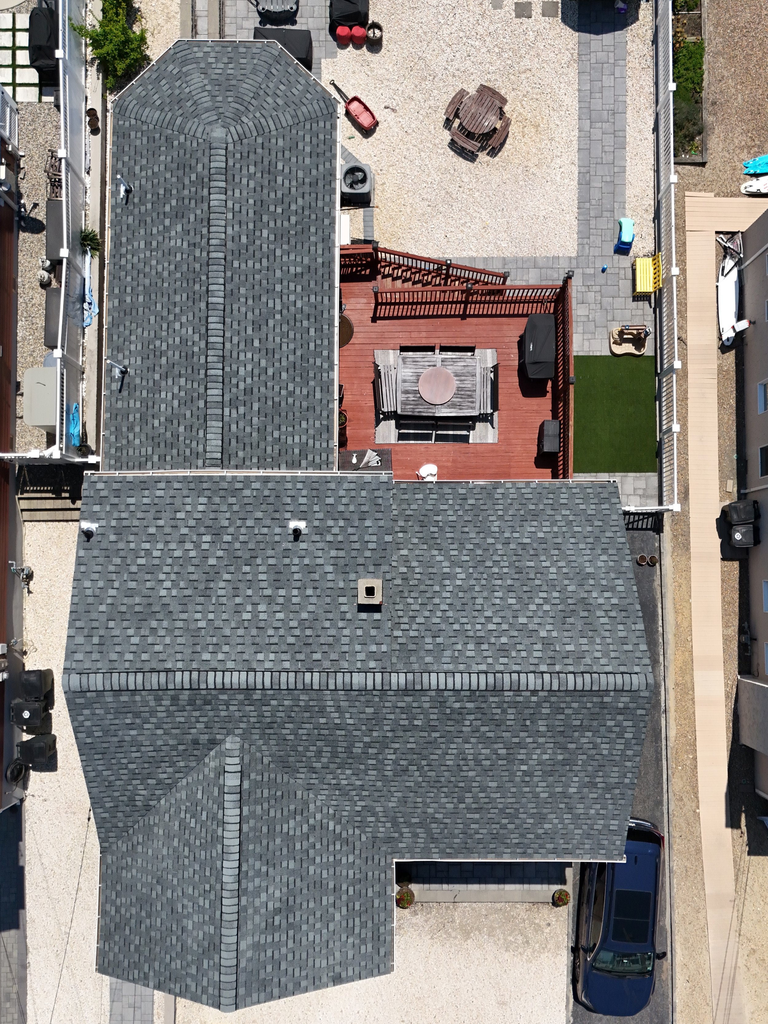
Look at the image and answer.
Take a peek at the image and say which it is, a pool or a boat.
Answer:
boat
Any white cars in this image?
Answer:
No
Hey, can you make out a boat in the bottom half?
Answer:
No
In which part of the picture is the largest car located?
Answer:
bottom right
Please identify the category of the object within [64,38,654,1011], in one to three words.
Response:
house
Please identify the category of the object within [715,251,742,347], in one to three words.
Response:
boat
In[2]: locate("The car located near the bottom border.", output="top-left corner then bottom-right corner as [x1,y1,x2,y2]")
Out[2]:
[571,815,669,1013]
